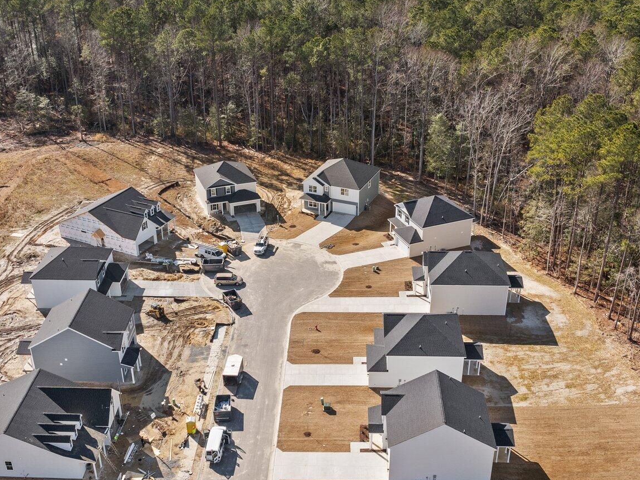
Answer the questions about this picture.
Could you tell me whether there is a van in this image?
Yes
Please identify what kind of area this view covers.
residential area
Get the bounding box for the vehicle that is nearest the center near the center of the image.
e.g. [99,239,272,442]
[250,229,272,251]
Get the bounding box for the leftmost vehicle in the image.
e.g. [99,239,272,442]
[142,303,167,322]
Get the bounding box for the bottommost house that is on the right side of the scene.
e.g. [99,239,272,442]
[369,368,517,480]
